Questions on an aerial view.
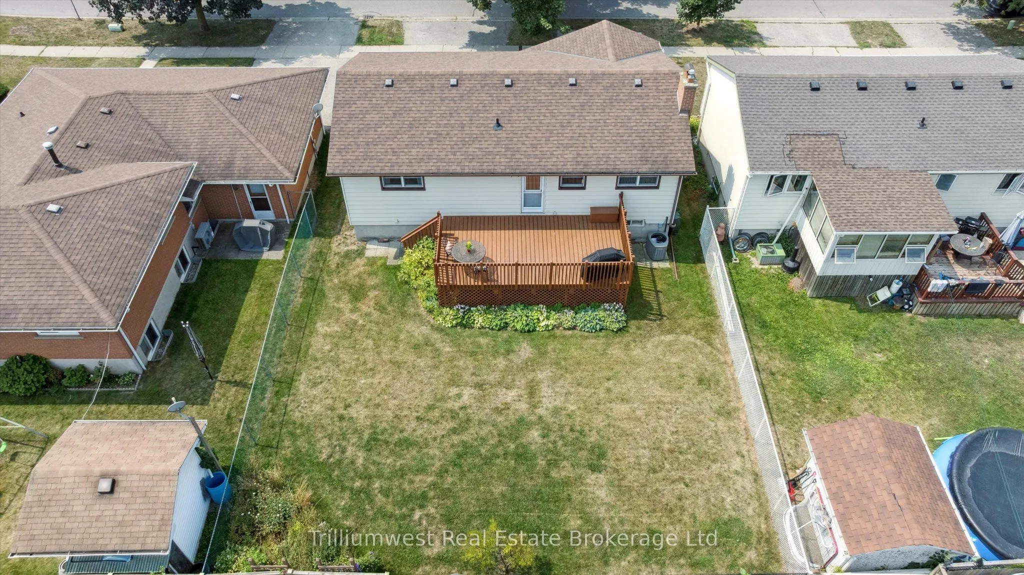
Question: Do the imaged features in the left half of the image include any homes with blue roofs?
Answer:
No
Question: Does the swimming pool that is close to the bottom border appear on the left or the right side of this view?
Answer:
right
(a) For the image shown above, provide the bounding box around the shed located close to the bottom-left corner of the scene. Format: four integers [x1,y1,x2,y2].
[10,418,215,573]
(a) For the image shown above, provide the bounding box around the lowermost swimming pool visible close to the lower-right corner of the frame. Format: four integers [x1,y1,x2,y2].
[932,426,1024,564]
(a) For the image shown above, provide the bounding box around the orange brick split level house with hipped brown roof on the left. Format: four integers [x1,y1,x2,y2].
[0,67,334,374]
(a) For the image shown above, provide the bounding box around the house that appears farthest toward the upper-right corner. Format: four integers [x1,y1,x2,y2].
[695,52,1024,297]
